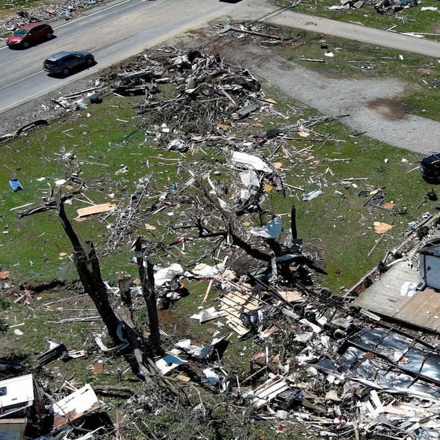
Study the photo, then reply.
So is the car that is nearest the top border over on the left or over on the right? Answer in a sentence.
The car that is nearest the top border is on the left side of the image.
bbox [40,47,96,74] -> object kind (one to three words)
car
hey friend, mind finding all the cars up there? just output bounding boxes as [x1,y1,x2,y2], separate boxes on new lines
[40,47,96,74]
[416,146,440,181]
[4,18,57,46]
